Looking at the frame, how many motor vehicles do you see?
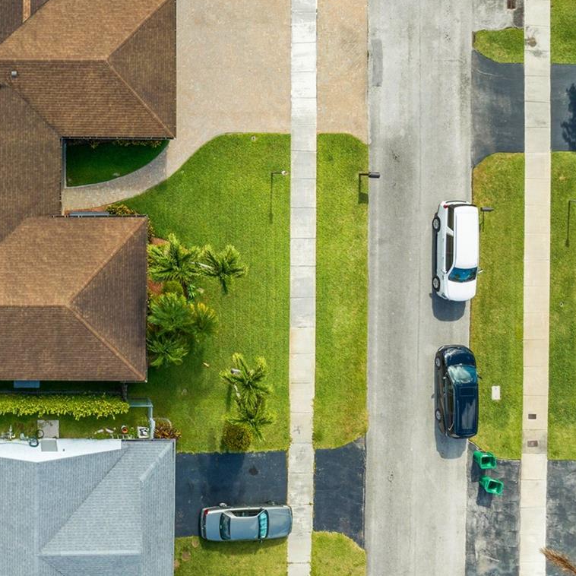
3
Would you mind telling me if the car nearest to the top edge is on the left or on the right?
right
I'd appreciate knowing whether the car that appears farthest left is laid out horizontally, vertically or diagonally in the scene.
horizontally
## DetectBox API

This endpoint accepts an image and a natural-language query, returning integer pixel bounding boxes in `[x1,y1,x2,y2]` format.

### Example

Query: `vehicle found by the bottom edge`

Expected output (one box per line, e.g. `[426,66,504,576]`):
[197,501,291,549]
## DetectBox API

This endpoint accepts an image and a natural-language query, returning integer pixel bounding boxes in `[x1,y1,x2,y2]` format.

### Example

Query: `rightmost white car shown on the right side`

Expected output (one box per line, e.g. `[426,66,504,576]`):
[435,202,488,300]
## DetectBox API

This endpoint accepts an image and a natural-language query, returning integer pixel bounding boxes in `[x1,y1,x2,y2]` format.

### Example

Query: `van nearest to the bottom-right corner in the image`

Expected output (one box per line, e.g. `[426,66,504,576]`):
[435,348,487,448]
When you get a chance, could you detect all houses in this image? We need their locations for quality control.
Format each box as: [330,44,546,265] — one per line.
[0,437,177,576]
[0,0,178,390]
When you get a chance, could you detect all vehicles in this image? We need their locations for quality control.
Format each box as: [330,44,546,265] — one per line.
[435,202,488,300]
[197,501,291,549]
[435,348,487,448]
